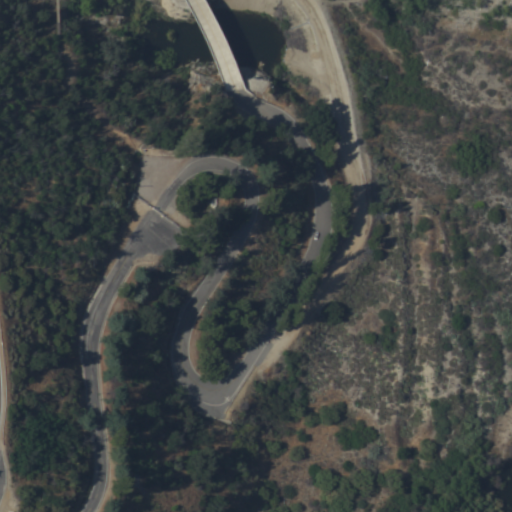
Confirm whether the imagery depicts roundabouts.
No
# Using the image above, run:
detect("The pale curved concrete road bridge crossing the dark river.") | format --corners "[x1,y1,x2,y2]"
[186,0,254,106]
